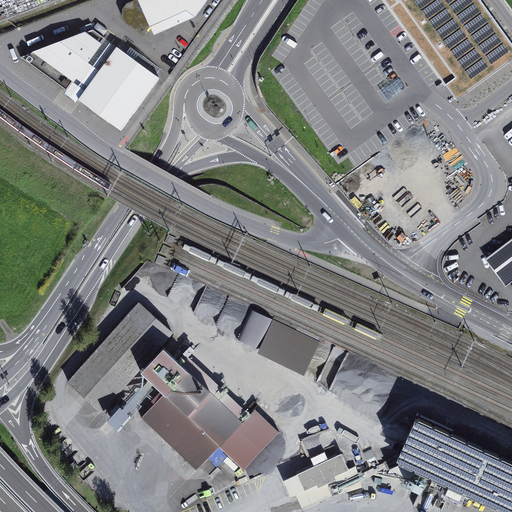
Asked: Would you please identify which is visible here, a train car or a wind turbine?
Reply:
train car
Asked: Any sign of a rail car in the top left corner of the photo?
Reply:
Yes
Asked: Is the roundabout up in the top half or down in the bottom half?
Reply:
top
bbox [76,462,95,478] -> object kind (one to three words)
vehicle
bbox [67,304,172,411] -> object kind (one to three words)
shed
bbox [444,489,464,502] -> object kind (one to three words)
vehicle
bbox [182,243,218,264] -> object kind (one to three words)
rail car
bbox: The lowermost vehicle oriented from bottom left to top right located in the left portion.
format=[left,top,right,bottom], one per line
[180,494,200,509]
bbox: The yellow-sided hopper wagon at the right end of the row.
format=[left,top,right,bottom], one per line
[353,322,383,340]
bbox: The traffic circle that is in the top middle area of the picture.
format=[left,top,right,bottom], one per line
[172,68,244,139]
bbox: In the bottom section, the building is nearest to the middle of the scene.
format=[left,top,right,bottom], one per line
[238,310,272,352]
